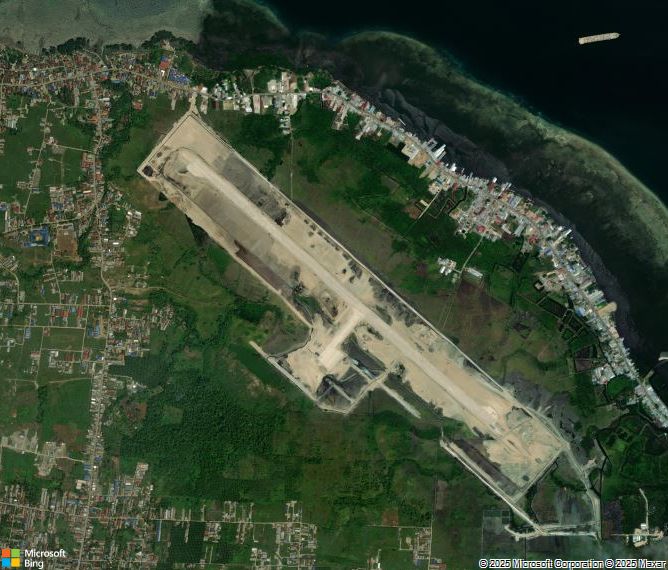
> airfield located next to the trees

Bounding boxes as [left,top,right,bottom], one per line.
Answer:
[138,113,568,500]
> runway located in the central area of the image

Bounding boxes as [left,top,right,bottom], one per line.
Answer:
[185,155,501,432]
